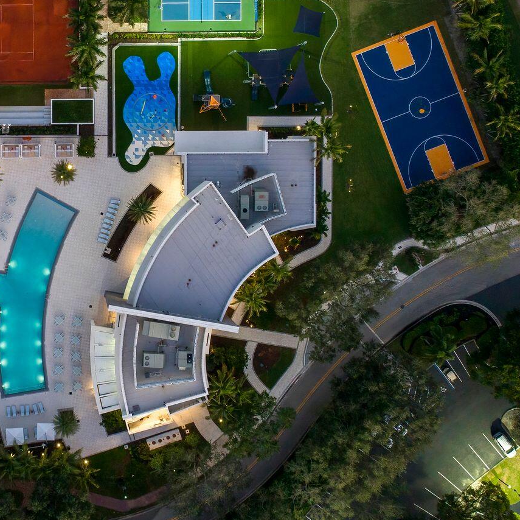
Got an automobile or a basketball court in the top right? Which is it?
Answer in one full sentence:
The one visible in the top right is a basketball court.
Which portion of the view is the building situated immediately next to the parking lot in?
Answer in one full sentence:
The building situated immediately next to the parking lot is in the center part of the image.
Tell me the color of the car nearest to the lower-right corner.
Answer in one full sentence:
The car nearest to the lower-right corner is white.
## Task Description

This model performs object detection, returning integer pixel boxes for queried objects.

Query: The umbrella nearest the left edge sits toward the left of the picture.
[6,426,23,445]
